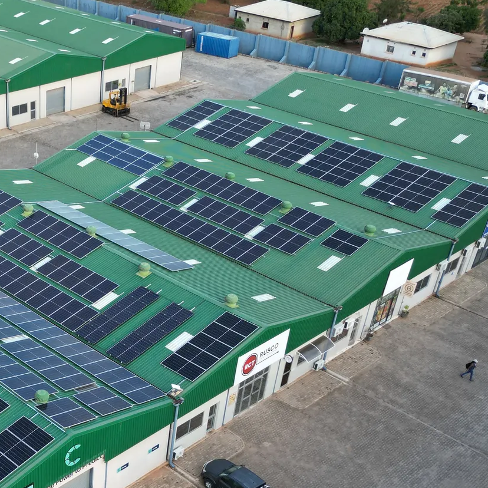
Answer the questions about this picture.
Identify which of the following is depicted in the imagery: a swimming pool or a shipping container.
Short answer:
shipping container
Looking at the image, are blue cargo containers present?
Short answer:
Yes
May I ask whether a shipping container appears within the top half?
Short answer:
Yes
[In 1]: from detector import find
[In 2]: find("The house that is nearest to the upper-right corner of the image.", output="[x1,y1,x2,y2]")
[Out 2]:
[364,24,457,66]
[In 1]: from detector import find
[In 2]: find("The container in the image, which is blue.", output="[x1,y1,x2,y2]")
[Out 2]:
[195,33,237,59]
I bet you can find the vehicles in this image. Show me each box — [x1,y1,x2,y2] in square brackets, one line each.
[393,65,488,114]
[102,87,138,120]
[199,456,273,488]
